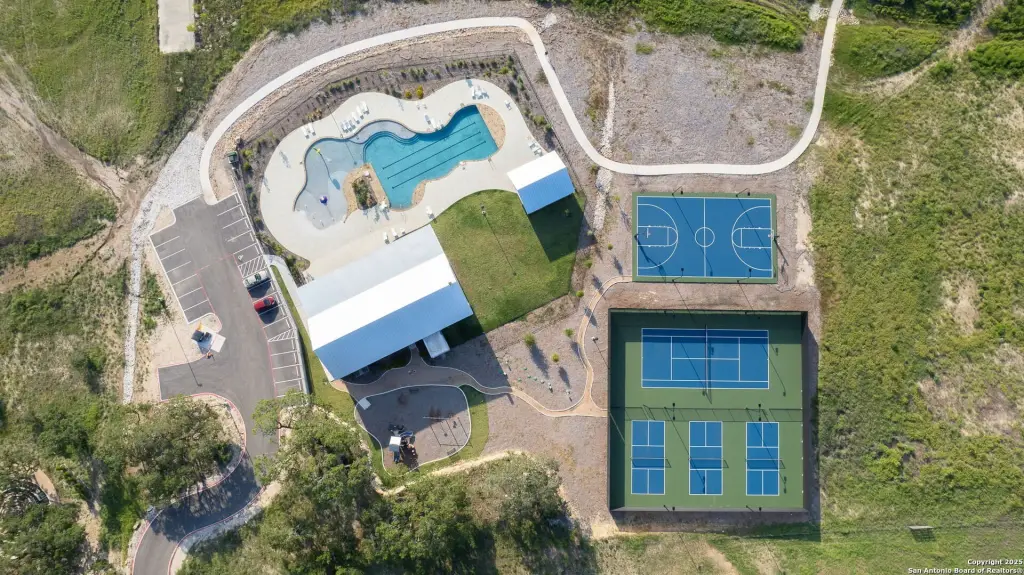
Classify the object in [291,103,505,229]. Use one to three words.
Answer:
swimming pool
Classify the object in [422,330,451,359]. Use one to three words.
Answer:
building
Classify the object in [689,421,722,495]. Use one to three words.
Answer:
sports court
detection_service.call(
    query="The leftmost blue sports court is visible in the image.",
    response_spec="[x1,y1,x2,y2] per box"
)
[632,421,665,494]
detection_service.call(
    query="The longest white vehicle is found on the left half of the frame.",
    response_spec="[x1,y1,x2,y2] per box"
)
[240,270,269,289]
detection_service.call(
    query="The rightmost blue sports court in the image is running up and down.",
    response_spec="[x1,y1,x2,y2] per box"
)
[746,422,779,496]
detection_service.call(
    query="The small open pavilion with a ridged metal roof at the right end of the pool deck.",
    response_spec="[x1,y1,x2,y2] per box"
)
[508,149,574,213]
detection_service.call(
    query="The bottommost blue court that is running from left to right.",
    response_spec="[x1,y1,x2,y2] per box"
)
[642,329,769,389]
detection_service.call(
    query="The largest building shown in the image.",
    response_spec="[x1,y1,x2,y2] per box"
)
[296,223,472,380]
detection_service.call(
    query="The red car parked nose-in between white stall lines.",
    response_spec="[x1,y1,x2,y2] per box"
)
[250,294,277,312]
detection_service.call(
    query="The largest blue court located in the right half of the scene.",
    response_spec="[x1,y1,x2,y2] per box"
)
[632,192,777,283]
